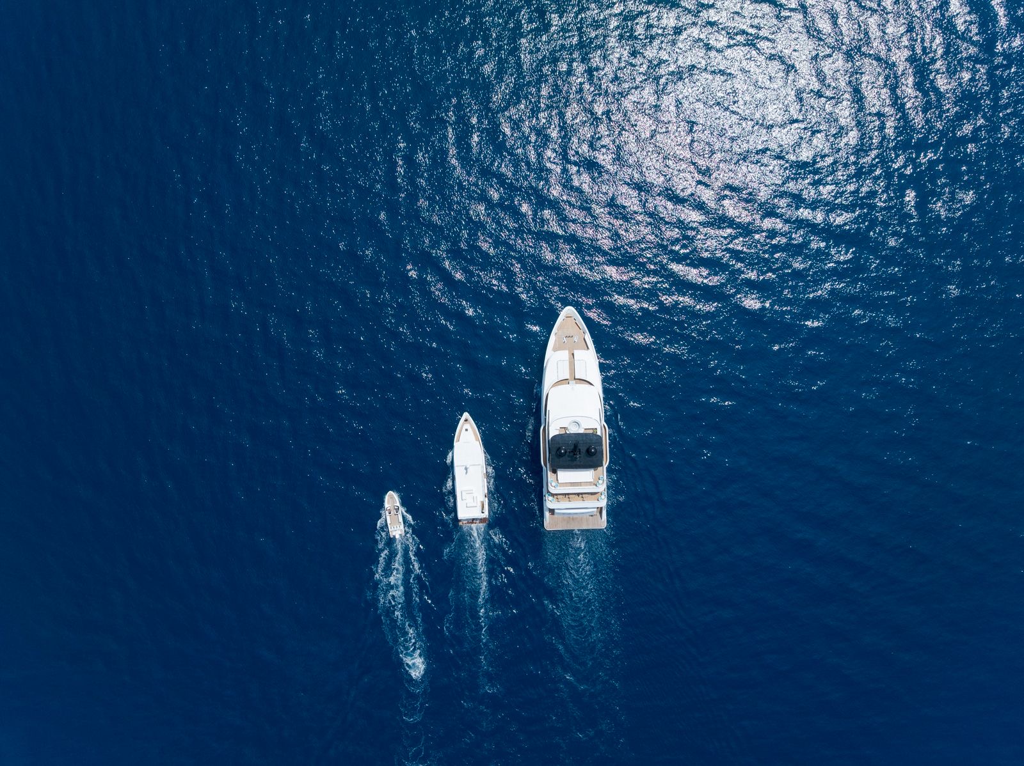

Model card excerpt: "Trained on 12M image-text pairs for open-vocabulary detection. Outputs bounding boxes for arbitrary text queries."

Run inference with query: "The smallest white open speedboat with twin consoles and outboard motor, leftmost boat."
[385,490,405,539]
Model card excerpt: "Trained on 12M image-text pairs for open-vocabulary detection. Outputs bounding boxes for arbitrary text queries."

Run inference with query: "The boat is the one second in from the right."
[453,411,488,527]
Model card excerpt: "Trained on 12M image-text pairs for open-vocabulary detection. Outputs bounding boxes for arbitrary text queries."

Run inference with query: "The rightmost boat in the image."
[540,305,610,530]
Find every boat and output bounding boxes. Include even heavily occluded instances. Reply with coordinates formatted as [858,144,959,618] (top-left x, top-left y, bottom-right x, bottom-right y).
[453,411,488,527]
[540,305,610,530]
[385,490,405,539]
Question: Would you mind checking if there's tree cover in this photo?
No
